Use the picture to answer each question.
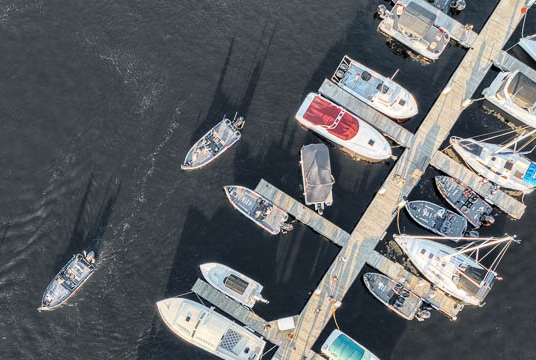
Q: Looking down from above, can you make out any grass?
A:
No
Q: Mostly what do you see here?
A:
water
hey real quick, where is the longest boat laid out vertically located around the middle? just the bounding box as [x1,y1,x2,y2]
[300,143,333,213]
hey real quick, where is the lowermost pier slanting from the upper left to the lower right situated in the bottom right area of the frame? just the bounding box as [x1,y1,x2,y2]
[365,249,463,320]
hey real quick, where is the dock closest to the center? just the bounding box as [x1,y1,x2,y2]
[254,177,349,246]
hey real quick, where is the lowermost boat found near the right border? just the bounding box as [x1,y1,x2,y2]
[395,232,515,301]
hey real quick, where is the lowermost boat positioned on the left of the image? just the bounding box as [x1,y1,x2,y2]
[156,297,266,360]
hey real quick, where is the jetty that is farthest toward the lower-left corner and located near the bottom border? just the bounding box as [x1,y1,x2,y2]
[191,277,286,344]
